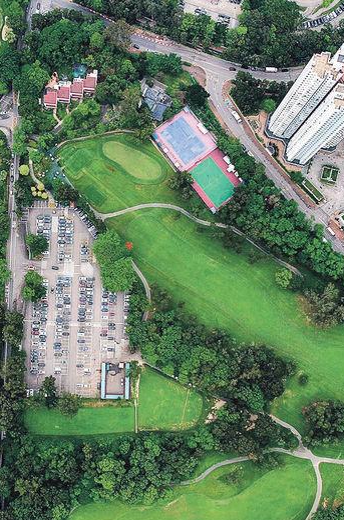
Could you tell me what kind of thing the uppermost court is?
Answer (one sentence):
I'd say the uppermost court is a tennis court.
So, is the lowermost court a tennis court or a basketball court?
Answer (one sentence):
It turns out the lowermost court is a tennis court.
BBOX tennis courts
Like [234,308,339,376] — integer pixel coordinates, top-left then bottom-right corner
[152,105,219,172]
[183,147,243,215]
